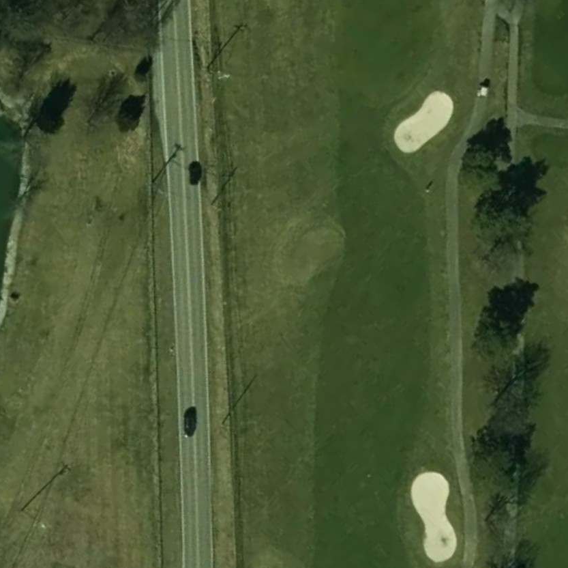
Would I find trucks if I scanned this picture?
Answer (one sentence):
No, I can't see a single truck in this photo.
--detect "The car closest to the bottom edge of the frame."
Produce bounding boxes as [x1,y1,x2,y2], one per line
[182,410,195,436]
